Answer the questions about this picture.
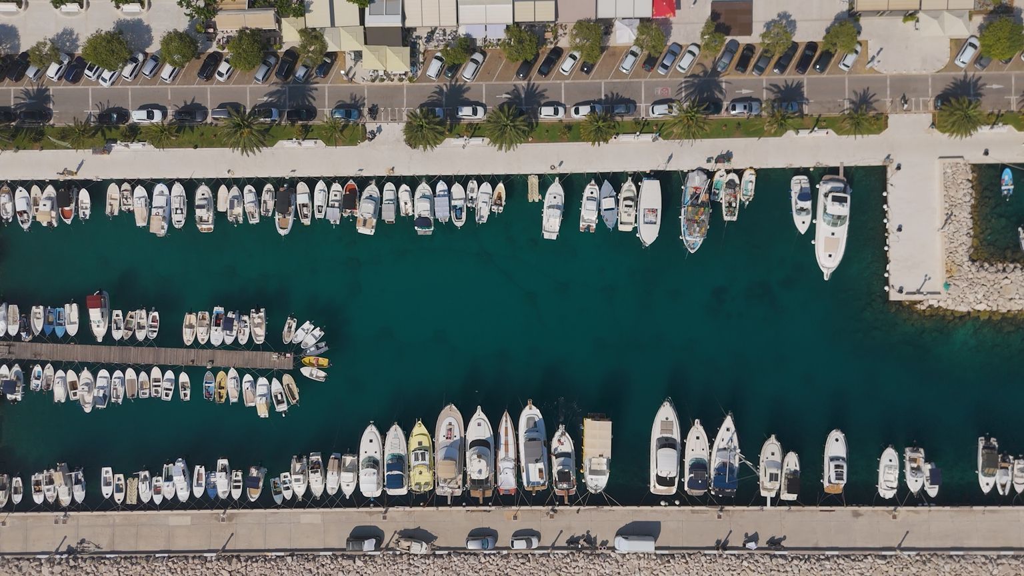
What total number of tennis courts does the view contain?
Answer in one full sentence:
I count no tennis courts.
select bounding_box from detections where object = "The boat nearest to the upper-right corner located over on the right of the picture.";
[999,168,1013,201]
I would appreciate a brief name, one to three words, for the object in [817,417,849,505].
boat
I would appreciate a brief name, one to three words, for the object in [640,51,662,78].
car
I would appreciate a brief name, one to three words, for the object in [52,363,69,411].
boat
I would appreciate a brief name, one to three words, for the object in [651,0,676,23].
tent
